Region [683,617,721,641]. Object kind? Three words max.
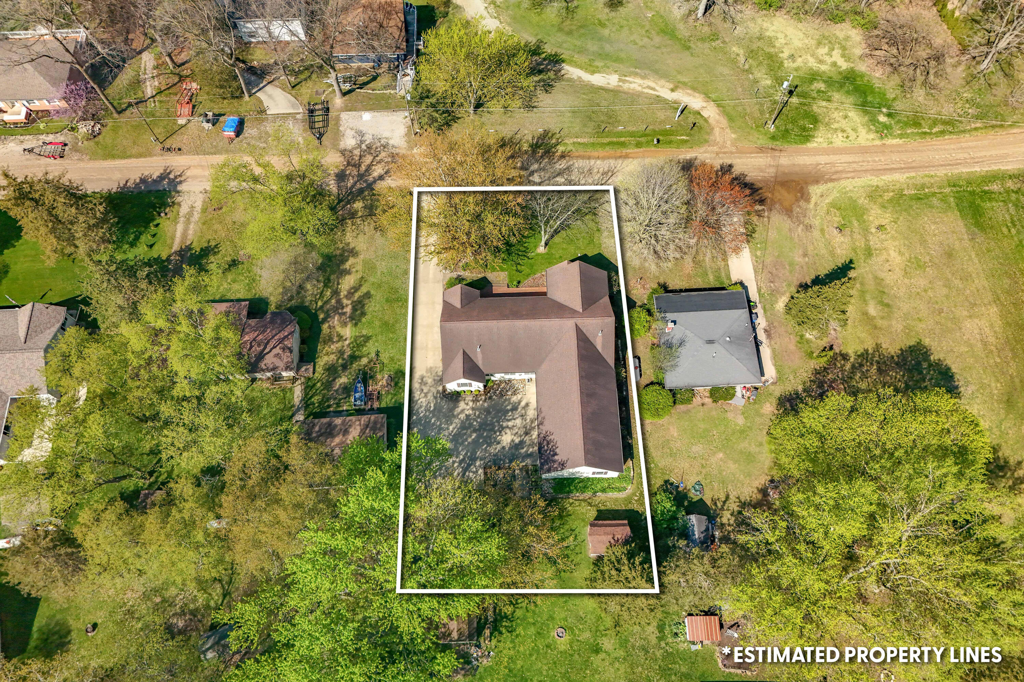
shed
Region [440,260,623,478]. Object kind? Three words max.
house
